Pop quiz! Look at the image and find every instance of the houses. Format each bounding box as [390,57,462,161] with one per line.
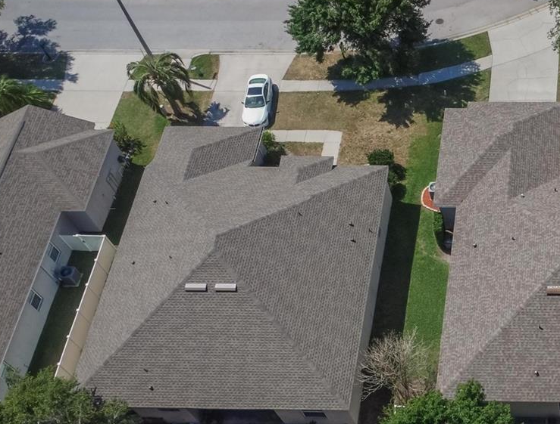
[66,125,391,423]
[0,106,127,416]
[433,102,560,416]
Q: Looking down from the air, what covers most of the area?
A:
buildings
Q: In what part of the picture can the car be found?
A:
top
